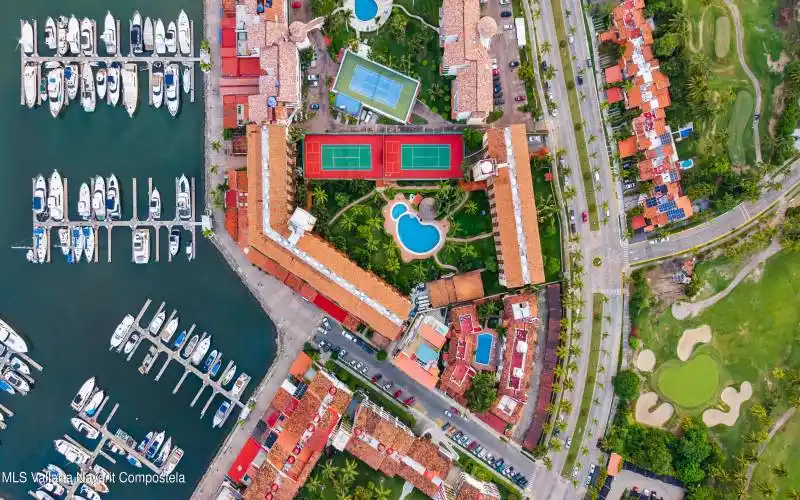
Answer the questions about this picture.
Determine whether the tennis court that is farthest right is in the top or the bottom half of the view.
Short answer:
top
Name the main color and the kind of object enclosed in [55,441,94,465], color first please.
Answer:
white boat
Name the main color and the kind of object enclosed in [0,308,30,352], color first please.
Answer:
white boat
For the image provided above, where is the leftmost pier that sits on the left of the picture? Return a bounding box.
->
[0,338,44,428]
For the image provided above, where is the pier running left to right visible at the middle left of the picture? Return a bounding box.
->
[30,178,202,262]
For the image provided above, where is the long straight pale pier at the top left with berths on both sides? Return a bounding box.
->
[18,19,200,104]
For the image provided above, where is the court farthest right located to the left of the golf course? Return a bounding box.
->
[384,133,465,180]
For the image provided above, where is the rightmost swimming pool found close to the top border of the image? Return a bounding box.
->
[345,0,393,32]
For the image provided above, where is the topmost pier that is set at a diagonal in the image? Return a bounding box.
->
[118,299,252,428]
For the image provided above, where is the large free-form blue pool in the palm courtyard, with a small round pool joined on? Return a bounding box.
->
[384,194,450,262]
